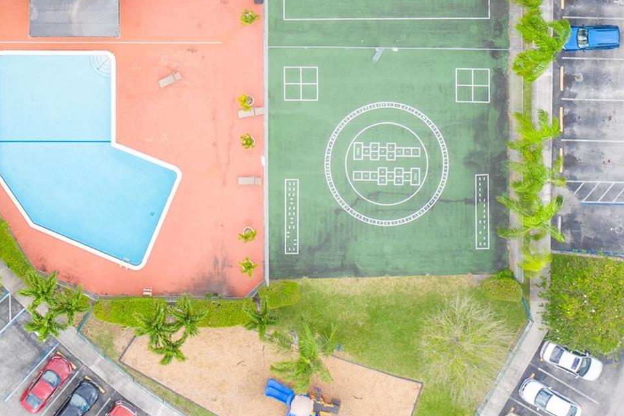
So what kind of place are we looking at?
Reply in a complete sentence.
This image shows a sports ground.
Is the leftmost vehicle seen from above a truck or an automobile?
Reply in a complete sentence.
The leftmost vehicle in the image is an automobile.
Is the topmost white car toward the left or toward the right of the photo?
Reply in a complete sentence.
You can find the topmost white car on the right side of the picture.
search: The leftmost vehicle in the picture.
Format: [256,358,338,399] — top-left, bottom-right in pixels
[20,351,72,413]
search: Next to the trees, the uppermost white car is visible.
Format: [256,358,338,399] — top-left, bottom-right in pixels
[537,339,602,378]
